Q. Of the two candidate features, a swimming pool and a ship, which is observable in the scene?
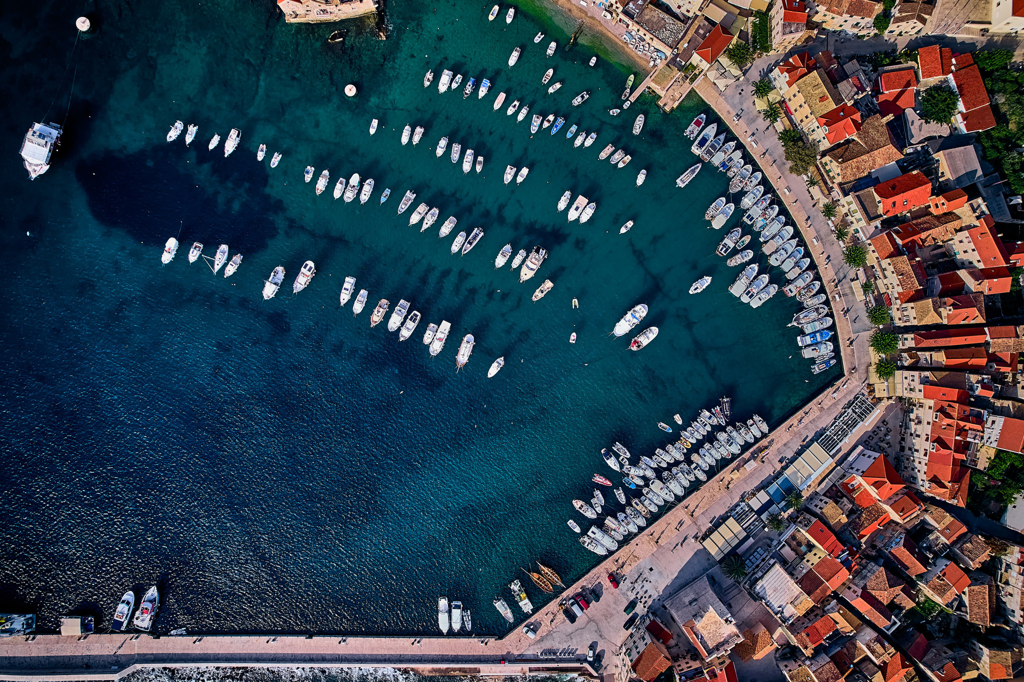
ship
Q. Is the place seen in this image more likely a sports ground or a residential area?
residential area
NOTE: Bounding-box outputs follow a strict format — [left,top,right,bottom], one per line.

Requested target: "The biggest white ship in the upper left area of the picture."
[17,122,67,178]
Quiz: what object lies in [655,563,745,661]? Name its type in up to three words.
house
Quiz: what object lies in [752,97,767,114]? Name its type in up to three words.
umbrella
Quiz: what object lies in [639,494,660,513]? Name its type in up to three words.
boat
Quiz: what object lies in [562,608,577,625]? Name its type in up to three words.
car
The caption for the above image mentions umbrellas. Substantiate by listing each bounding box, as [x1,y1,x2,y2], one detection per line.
[705,62,724,82]
[765,88,783,105]
[715,71,734,90]
[752,97,767,114]
[726,64,744,81]
[714,55,731,72]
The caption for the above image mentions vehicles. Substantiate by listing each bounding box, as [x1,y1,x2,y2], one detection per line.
[562,608,577,625]
[567,597,586,620]
[585,646,593,661]
[606,573,620,590]
[522,625,537,640]
[623,601,637,618]
[622,613,638,630]
[575,594,591,612]
[589,590,600,604]
[592,655,600,668]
